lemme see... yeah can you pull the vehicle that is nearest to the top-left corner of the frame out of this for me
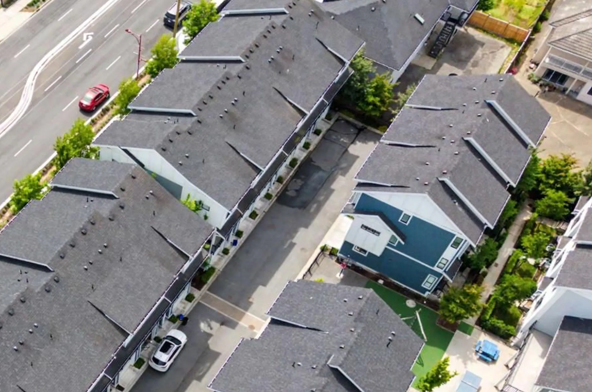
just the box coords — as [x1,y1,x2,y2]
[76,82,110,112]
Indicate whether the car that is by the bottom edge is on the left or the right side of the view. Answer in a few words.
left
